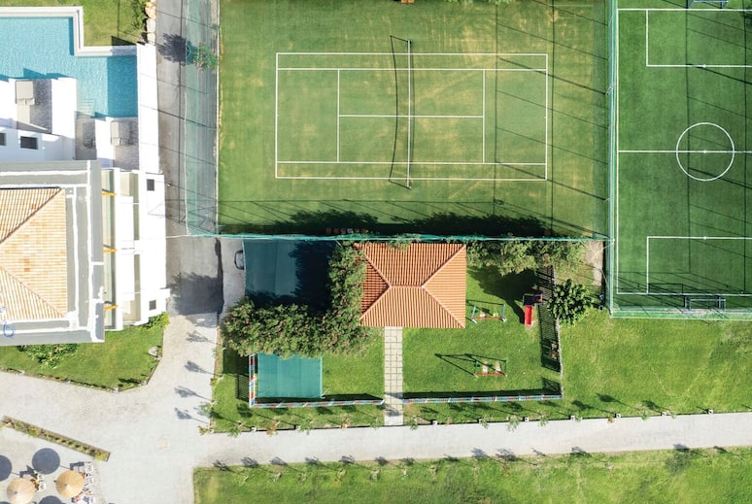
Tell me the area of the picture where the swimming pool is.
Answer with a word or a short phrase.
top left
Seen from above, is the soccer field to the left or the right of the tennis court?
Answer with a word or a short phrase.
to the right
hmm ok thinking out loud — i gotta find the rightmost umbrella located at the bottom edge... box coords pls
[58,468,86,497]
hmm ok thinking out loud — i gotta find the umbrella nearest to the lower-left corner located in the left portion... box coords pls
[9,476,38,504]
